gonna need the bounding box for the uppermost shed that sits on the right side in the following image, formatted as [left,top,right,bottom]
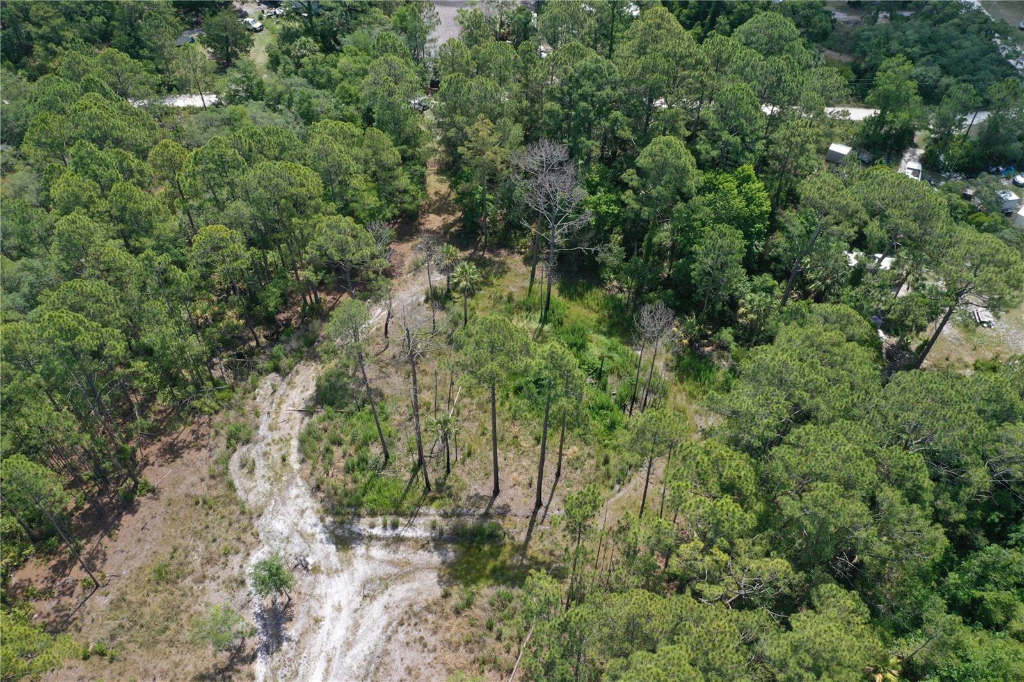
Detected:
[829,142,856,165]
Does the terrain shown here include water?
No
